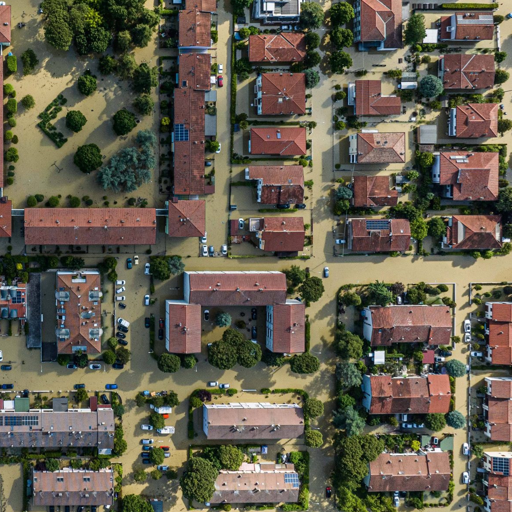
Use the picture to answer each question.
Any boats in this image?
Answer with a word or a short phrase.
No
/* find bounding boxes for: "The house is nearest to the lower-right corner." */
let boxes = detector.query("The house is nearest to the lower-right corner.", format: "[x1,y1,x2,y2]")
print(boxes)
[478,451,512,512]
